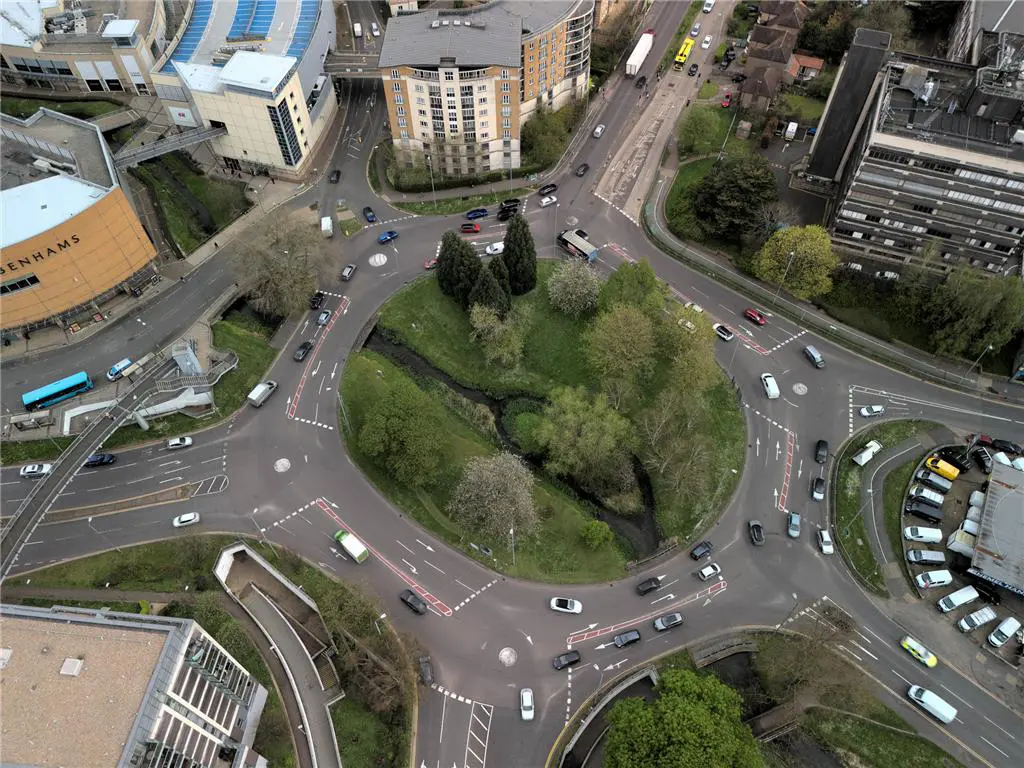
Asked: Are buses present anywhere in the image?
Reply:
Yes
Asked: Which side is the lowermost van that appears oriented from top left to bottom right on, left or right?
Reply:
right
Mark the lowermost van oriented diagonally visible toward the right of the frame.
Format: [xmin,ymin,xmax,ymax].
[910,684,959,724]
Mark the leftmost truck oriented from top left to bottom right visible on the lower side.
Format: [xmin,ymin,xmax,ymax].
[328,525,376,568]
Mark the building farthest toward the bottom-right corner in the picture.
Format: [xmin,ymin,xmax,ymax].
[956,466,1024,609]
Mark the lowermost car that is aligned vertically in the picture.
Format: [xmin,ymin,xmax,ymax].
[519,687,535,722]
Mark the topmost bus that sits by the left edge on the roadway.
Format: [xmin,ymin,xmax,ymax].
[19,369,97,412]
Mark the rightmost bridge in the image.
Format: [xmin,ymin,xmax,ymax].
[325,51,383,79]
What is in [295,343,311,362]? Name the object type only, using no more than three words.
car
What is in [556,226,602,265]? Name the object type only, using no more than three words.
bus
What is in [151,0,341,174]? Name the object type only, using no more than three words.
building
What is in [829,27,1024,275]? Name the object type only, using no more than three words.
building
